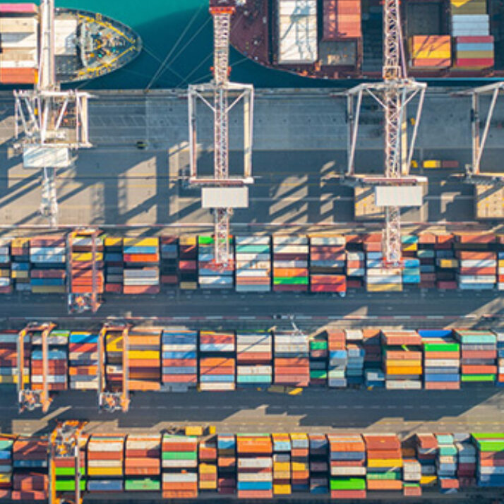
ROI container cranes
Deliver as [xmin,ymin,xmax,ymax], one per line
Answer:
[67,225,107,311]
[98,318,137,410]
[454,83,504,185]
[19,0,114,224]
[181,0,260,266]
[18,318,61,408]
[333,0,432,268]
[47,420,90,504]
